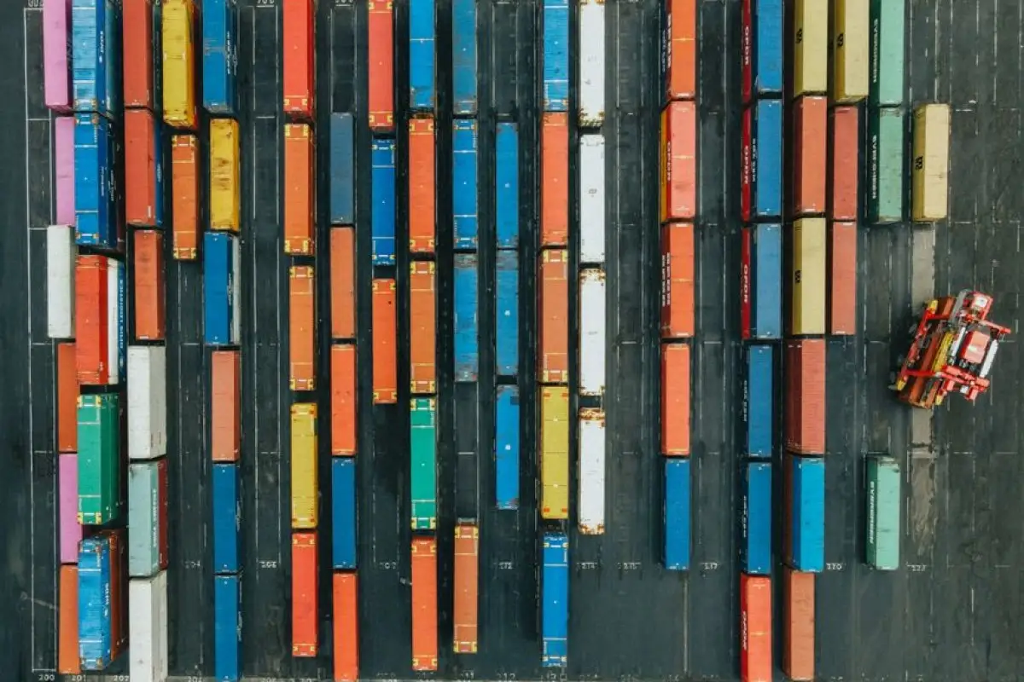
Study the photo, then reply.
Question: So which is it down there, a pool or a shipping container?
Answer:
shipping container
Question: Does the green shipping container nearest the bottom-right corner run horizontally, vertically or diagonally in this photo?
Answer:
vertically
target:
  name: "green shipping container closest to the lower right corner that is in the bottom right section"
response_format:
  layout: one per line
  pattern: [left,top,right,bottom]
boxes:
[867,457,900,571]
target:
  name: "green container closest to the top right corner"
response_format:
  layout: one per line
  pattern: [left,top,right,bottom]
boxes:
[870,0,904,110]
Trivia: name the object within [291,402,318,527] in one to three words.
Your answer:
shipping container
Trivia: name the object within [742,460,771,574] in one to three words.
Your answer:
shipping container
